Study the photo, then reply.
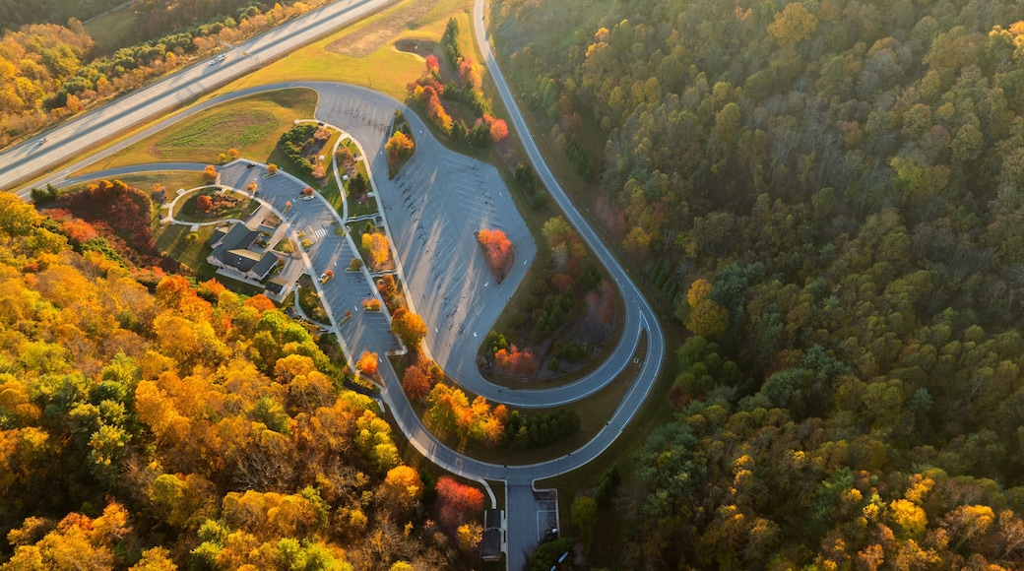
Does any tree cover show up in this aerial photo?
Yes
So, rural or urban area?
rural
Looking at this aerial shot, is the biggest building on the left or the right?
left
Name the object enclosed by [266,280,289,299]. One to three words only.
building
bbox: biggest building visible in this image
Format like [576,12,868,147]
[201,222,280,282]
